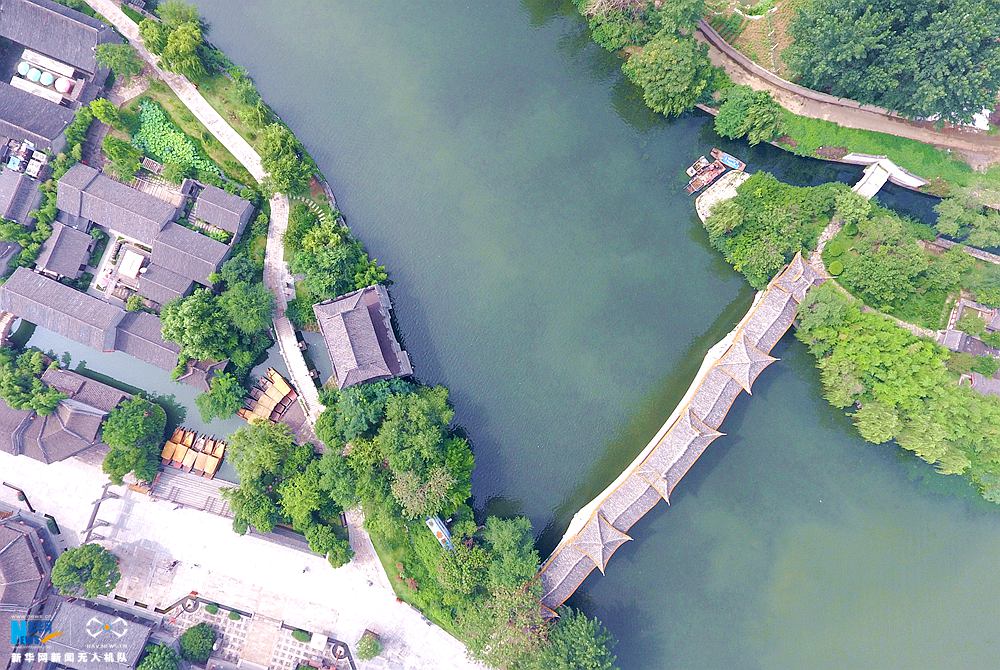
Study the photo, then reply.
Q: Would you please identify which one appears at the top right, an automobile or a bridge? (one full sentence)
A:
There is a bridge at the top right.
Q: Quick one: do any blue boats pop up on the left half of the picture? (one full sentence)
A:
No, I see no blue boat on the left half of the picture.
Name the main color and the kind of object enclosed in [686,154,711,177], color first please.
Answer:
white boat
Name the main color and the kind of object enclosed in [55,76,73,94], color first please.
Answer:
white umbrella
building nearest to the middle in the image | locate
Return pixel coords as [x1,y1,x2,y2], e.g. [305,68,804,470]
[309,286,418,393]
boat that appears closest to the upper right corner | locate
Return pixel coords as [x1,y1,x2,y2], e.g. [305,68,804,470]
[708,146,748,171]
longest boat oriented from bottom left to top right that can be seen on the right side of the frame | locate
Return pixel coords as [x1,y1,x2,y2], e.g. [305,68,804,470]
[682,161,728,198]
